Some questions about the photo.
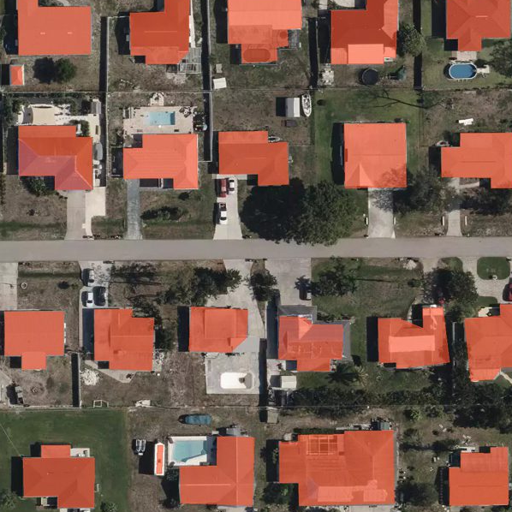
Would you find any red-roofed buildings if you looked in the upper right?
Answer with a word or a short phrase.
Yes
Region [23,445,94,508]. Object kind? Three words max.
house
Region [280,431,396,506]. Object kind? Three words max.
house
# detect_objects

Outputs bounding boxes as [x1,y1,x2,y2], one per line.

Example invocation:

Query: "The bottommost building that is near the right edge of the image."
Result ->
[451,447,510,505]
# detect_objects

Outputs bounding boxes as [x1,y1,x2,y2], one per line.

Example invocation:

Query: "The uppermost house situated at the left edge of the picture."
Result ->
[17,0,91,54]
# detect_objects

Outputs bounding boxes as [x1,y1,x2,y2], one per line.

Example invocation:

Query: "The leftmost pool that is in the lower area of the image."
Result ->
[172,439,209,463]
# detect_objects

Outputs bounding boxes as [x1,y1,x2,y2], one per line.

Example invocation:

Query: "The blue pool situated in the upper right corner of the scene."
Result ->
[450,62,477,79]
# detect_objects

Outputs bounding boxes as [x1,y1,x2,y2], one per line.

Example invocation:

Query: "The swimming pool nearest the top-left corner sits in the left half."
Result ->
[144,109,177,125]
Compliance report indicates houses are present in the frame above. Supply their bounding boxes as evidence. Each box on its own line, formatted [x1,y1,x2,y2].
[379,307,451,367]
[131,0,202,73]
[4,310,64,368]
[94,308,155,370]
[123,133,198,188]
[17,0,91,54]
[19,125,93,190]
[442,132,512,188]
[448,0,512,49]
[280,431,396,506]
[345,122,408,187]
[466,303,512,381]
[278,305,351,370]
[190,307,248,351]
[23,445,94,508]
[181,437,255,506]
[451,447,510,505]
[219,131,289,185]
[332,0,400,63]
[228,0,303,63]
